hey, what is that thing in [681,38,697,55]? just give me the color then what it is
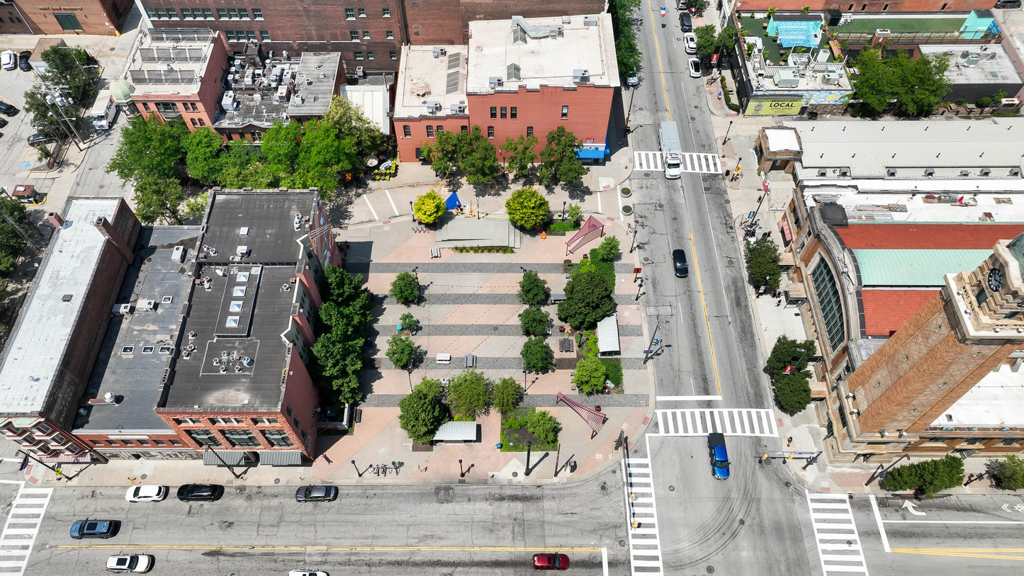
white car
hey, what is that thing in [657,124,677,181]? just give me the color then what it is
white vehicle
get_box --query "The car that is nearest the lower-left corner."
[74,518,120,540]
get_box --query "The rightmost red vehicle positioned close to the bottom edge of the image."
[530,551,568,572]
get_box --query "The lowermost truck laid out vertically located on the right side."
[705,434,727,480]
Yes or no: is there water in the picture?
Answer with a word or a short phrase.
No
